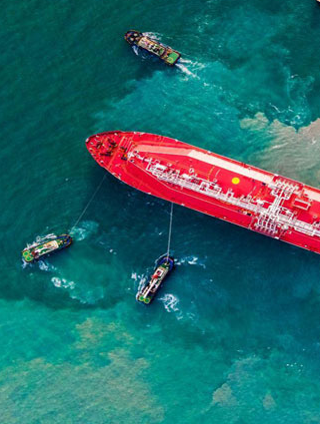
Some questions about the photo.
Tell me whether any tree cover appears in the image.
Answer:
No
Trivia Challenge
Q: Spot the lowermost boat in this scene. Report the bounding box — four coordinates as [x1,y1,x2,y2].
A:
[138,255,172,303]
